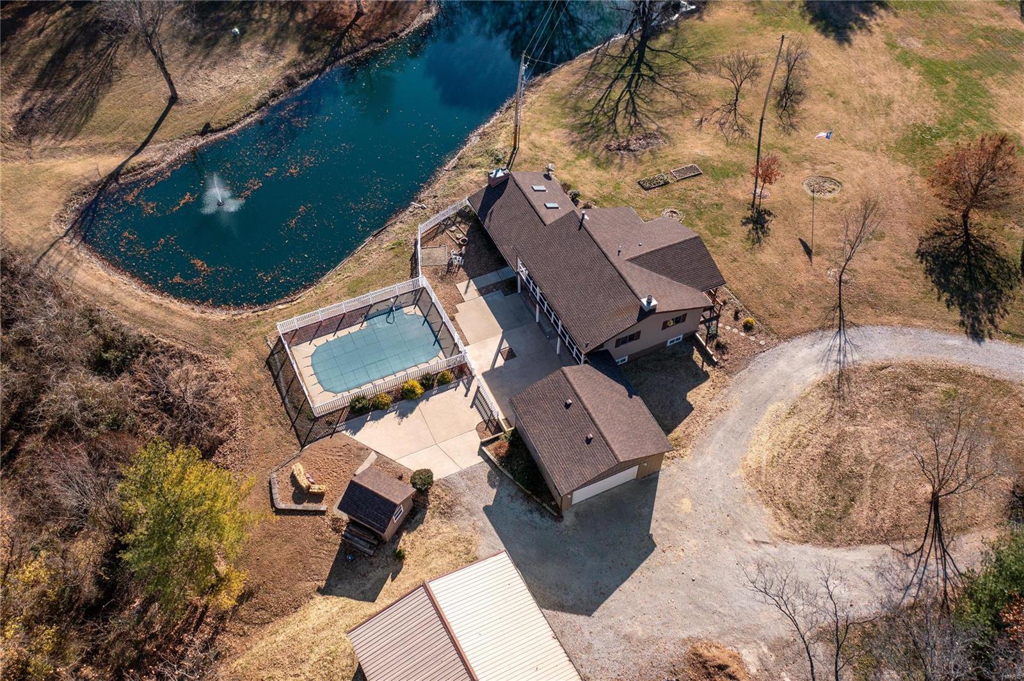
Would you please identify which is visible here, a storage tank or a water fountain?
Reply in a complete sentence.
The image shows a water fountain.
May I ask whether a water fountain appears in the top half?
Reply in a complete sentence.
Yes, the scene does show a water fountain in the top half.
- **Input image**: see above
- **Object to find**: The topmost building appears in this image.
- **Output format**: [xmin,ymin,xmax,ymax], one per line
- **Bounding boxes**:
[466,162,732,365]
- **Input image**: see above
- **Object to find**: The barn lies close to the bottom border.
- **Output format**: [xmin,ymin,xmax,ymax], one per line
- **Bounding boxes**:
[346,550,581,681]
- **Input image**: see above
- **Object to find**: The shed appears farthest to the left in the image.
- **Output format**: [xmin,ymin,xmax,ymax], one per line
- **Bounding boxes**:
[336,466,416,540]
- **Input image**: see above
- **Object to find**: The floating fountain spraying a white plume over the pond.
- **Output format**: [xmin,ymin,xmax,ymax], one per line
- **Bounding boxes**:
[183,171,249,224]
